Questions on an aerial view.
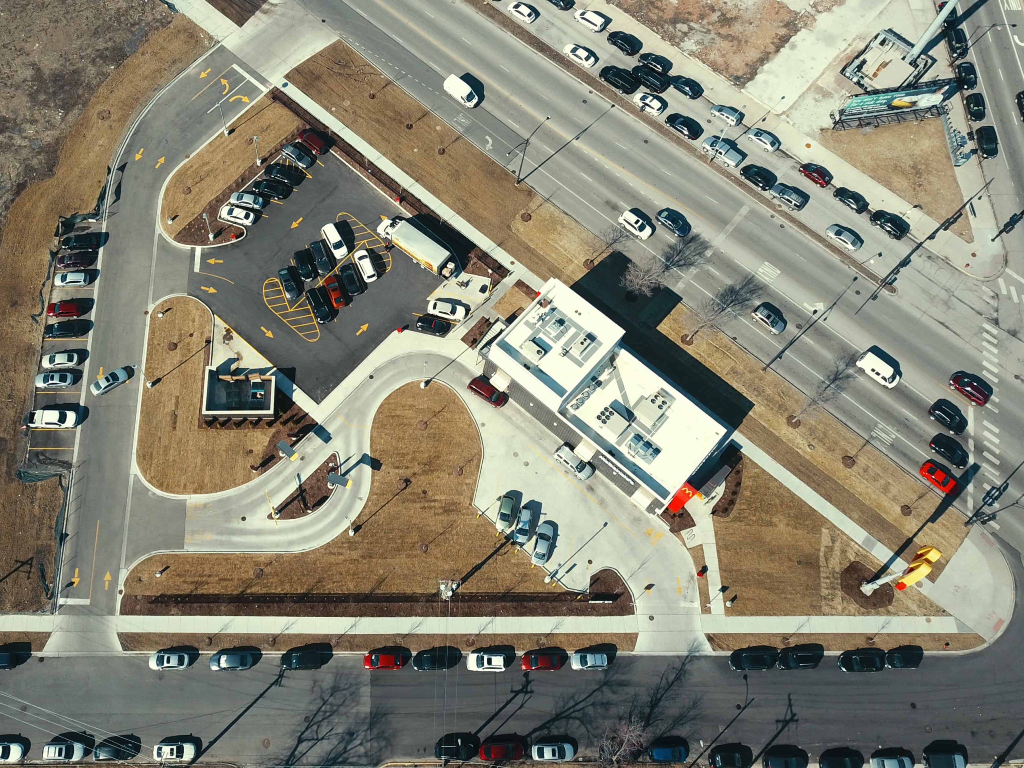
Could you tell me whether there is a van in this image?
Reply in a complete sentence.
Yes, there is a van in the image.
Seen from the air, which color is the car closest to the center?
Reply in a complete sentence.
The car closest to the center is red.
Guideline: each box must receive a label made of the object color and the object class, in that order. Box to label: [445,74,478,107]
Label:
white van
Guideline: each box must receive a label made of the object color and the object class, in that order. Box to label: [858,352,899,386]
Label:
white van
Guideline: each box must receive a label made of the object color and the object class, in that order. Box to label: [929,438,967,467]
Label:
black car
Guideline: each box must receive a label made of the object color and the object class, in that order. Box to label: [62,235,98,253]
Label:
black car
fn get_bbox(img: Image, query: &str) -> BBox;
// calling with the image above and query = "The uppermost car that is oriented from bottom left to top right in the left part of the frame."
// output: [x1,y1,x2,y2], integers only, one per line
[90,367,128,398]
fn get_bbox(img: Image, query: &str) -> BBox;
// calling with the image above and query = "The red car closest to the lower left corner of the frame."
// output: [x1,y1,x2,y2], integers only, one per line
[364,652,401,671]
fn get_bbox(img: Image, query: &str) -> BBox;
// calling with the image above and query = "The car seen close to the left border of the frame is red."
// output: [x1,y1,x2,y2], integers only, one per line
[47,302,81,319]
